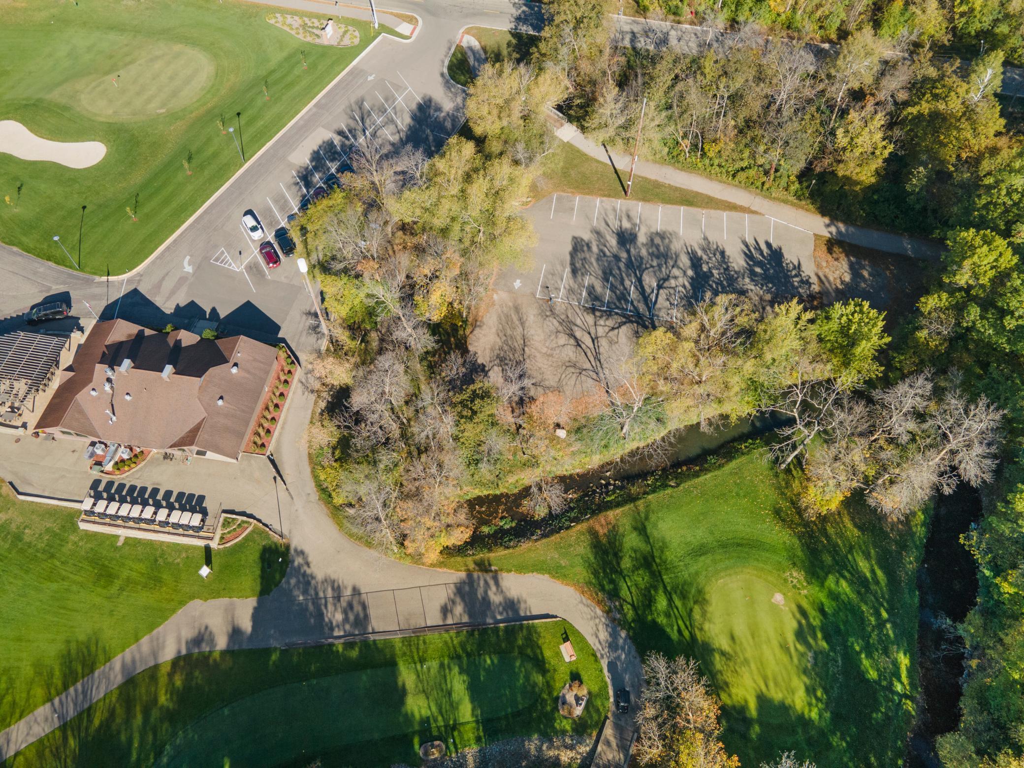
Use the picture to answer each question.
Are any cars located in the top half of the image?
Yes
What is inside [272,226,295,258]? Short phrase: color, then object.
black car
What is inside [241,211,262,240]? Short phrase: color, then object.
white car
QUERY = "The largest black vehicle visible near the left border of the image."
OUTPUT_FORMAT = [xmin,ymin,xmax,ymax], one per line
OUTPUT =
[21,299,68,323]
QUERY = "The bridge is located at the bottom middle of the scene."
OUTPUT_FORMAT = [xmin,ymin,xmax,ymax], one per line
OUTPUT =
[586,711,640,768]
